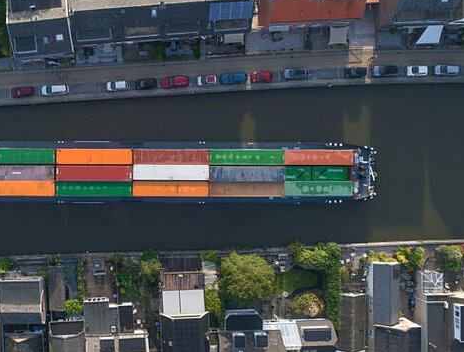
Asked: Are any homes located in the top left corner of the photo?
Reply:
Yes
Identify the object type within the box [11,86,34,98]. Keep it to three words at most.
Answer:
vehicle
